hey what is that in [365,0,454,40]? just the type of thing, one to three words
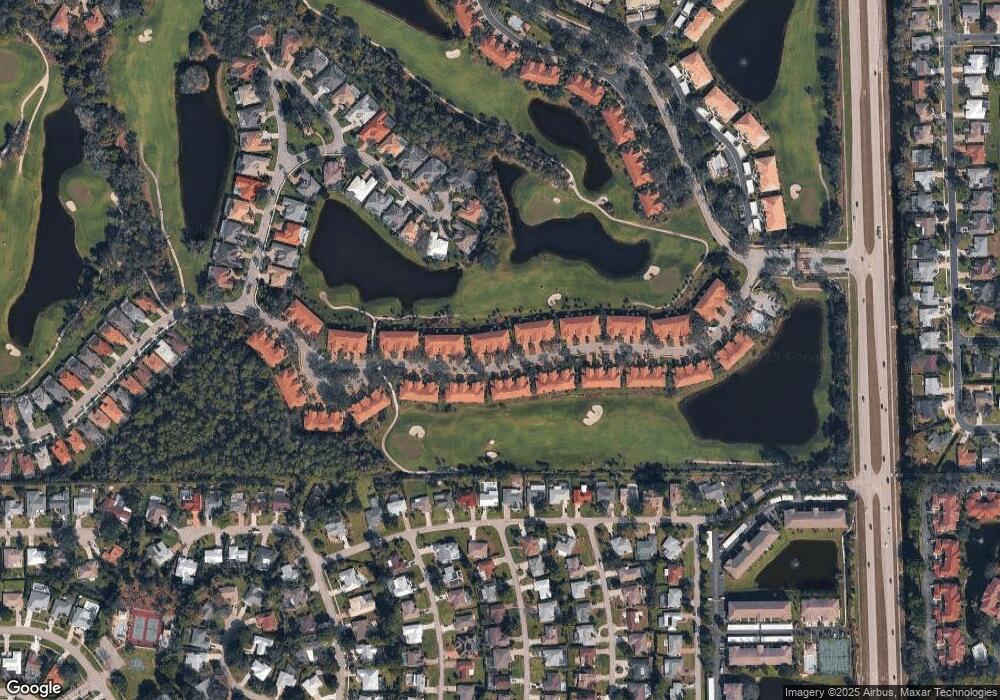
pond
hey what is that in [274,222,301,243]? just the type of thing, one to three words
house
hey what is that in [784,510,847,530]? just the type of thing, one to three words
building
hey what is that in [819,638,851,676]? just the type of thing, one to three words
tennis court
